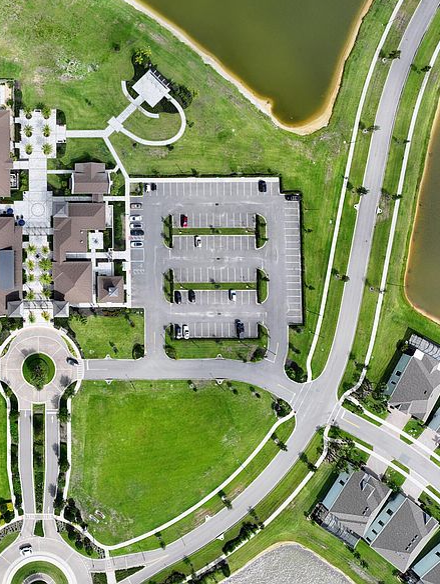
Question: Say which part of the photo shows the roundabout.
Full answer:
You can find the roundabout in the bottom left area of the picture.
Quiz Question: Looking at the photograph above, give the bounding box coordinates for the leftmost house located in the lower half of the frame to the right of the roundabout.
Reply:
[318,467,391,542]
